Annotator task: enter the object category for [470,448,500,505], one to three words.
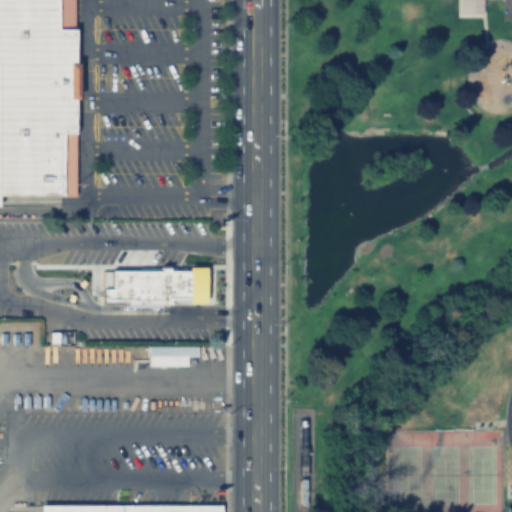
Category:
tennis court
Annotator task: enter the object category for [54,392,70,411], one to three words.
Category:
vehicle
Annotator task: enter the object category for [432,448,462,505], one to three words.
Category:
tennis court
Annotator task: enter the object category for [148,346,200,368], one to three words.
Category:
building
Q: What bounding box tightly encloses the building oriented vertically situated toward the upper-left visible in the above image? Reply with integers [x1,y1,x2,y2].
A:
[0,0,83,208]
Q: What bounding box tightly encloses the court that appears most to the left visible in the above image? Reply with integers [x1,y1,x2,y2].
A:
[394,448,424,505]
